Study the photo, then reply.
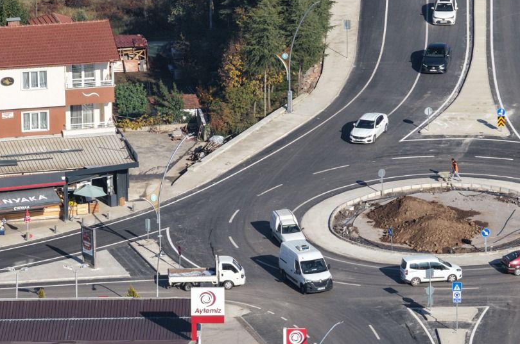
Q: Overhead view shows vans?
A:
Yes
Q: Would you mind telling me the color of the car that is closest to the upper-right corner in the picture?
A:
white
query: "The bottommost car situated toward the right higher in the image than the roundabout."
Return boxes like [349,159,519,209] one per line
[352,112,392,141]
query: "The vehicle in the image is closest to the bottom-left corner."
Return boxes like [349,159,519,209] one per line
[167,254,244,289]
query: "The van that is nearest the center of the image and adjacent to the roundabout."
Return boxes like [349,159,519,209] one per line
[275,204,312,241]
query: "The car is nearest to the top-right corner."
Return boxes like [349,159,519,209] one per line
[433,0,460,22]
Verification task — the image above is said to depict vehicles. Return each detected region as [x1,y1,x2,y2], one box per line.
[275,204,312,241]
[499,249,520,275]
[433,0,460,22]
[397,251,463,284]
[422,42,453,71]
[276,236,332,293]
[167,254,244,289]
[352,112,392,141]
